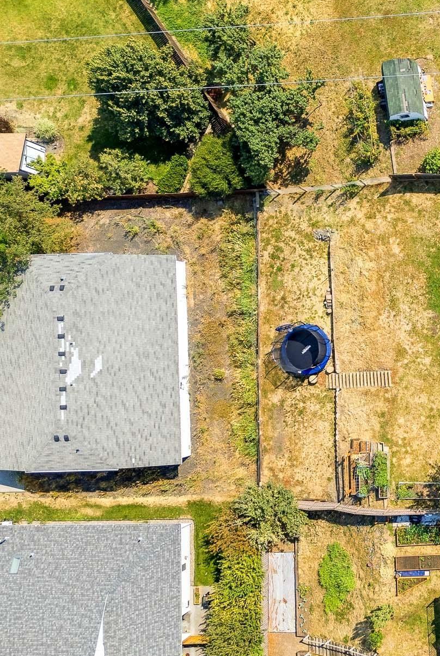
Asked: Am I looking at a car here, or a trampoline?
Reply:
trampoline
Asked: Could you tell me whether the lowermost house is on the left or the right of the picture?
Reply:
left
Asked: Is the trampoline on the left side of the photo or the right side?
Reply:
right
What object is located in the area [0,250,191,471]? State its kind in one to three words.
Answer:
house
